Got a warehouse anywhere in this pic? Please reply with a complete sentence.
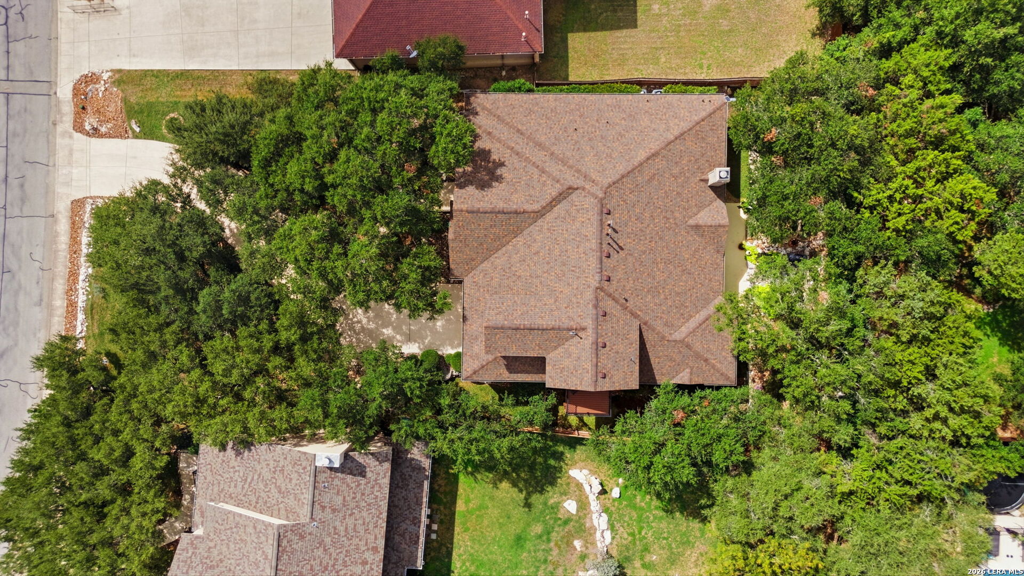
No, I can't see a single warehouse in this photo.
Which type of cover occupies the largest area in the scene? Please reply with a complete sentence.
The bulk of the photo consists of trees.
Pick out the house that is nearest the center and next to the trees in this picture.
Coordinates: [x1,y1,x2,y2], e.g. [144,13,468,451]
[448,92,738,391]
